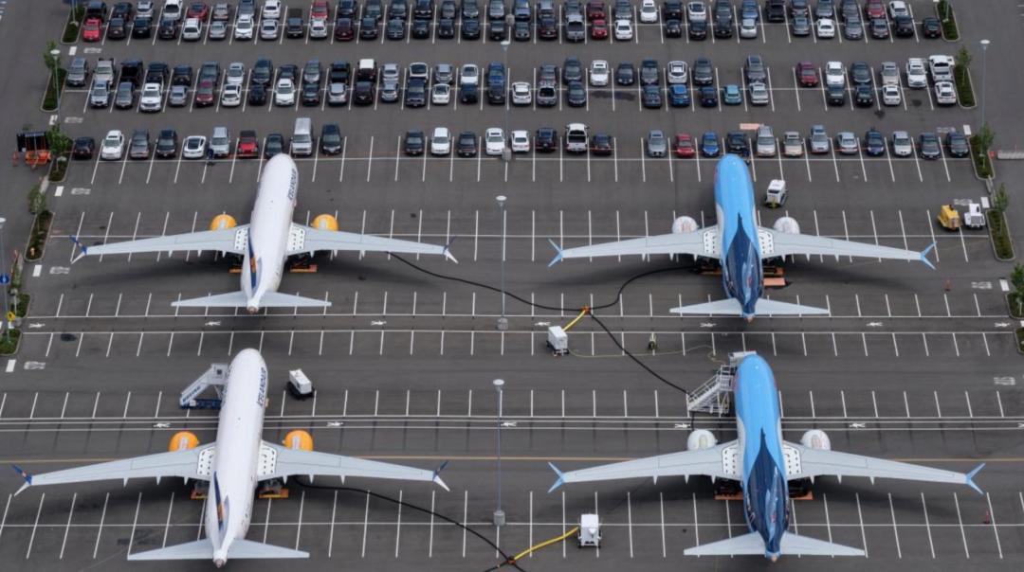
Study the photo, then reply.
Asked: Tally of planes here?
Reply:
4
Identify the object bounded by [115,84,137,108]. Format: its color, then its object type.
gray car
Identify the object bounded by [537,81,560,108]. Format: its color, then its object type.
gray truck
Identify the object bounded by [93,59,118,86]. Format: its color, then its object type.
gray truck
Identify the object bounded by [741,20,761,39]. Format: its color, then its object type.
gray car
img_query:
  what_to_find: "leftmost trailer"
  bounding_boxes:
[18,128,53,172]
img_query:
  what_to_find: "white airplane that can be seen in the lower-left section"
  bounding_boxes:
[14,347,451,569]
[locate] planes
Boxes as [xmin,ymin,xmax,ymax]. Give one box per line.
[546,154,935,324]
[549,353,986,566]
[70,153,457,316]
[14,347,451,569]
